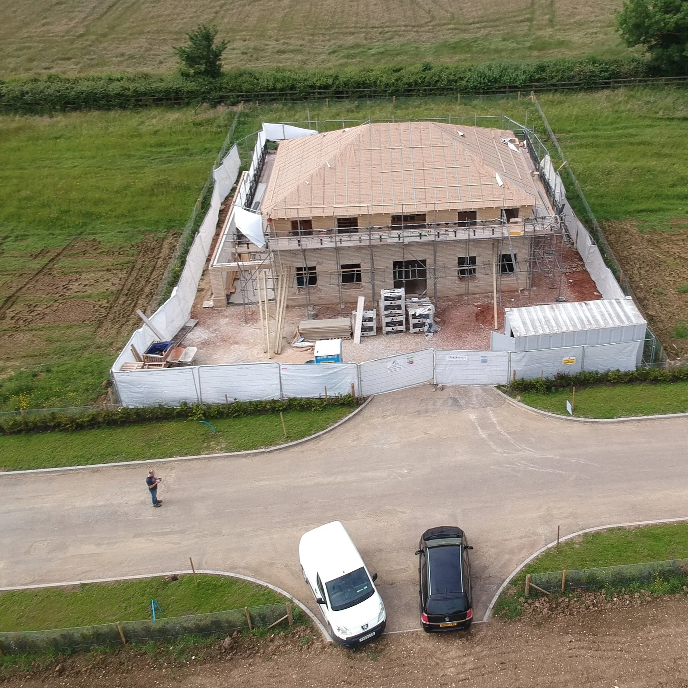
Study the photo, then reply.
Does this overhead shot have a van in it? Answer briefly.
Yes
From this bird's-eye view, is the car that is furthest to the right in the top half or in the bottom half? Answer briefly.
bottom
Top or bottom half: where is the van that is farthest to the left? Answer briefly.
bottom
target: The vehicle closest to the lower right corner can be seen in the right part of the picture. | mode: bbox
[413,527,478,636]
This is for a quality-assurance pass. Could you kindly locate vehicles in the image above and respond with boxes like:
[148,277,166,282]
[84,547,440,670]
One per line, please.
[300,523,388,649]
[413,527,478,636]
